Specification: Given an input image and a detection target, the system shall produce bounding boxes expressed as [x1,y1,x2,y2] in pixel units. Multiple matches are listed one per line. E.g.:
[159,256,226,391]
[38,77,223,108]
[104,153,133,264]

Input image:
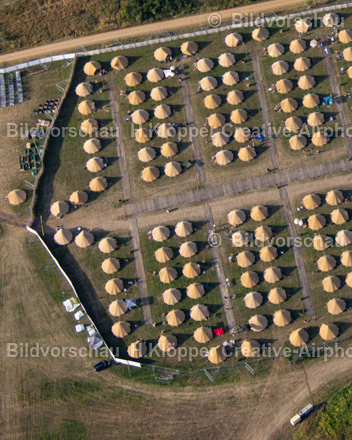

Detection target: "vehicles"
[92,358,112,371]
[289,402,315,425]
